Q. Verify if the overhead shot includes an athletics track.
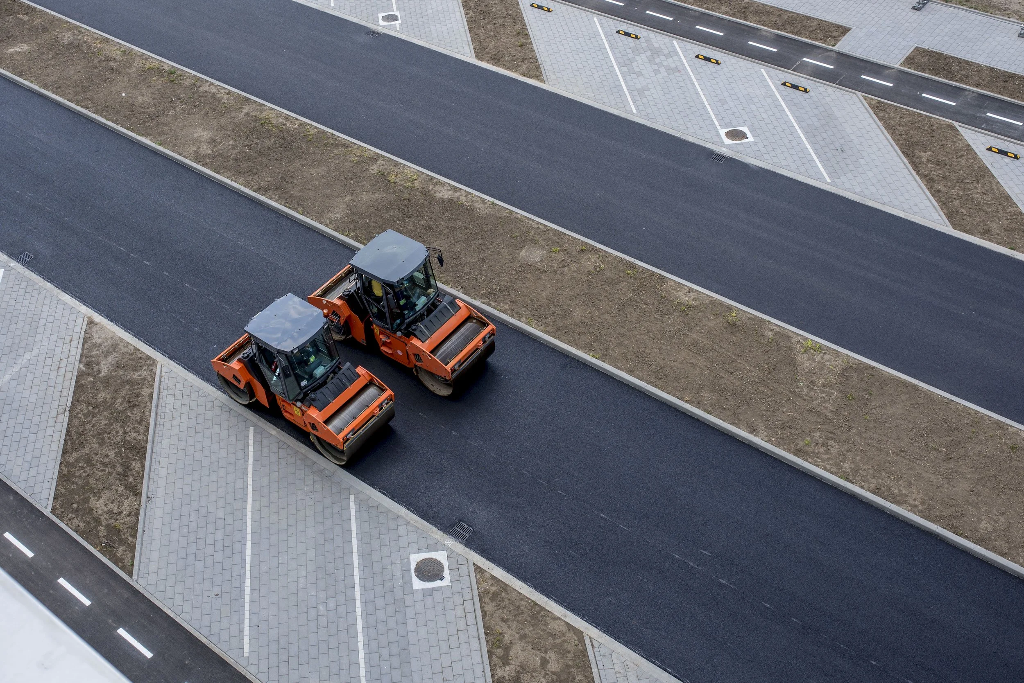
No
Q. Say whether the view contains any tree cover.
No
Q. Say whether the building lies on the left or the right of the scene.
left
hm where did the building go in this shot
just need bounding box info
[0,572,128,683]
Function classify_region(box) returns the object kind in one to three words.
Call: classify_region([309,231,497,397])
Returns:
work vehicle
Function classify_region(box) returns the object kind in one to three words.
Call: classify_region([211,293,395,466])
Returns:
work vehicle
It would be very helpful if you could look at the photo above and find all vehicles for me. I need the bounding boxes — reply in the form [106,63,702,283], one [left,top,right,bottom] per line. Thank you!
[309,231,497,397]
[211,293,395,466]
